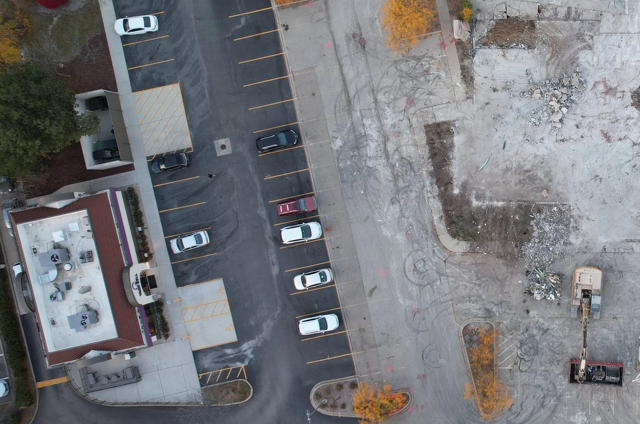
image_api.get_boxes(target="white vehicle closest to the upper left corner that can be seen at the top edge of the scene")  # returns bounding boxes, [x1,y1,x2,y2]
[114,14,157,35]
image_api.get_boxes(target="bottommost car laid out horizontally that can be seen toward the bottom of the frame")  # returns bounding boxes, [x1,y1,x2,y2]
[295,314,338,336]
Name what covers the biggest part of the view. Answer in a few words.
paved ground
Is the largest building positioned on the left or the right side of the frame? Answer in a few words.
left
